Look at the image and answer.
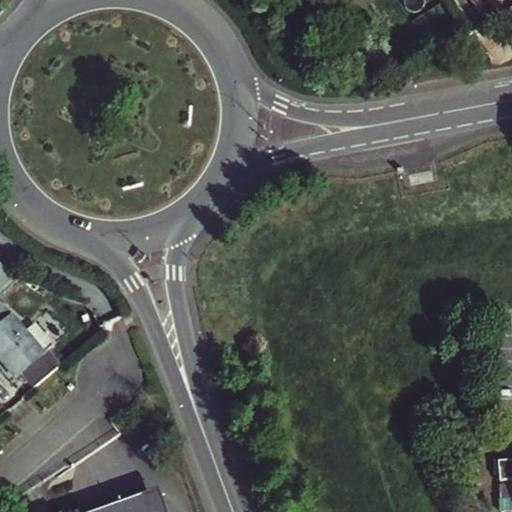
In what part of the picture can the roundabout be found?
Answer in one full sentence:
The roundabout appears toward the top left of the photo.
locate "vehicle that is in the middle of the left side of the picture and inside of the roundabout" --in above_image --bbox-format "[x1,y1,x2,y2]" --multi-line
[72,216,92,230]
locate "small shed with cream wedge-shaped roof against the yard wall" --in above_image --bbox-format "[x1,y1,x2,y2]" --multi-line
[49,468,74,496]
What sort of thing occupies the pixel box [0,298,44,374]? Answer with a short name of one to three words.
house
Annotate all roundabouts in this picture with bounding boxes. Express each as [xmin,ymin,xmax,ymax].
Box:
[0,0,258,257]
